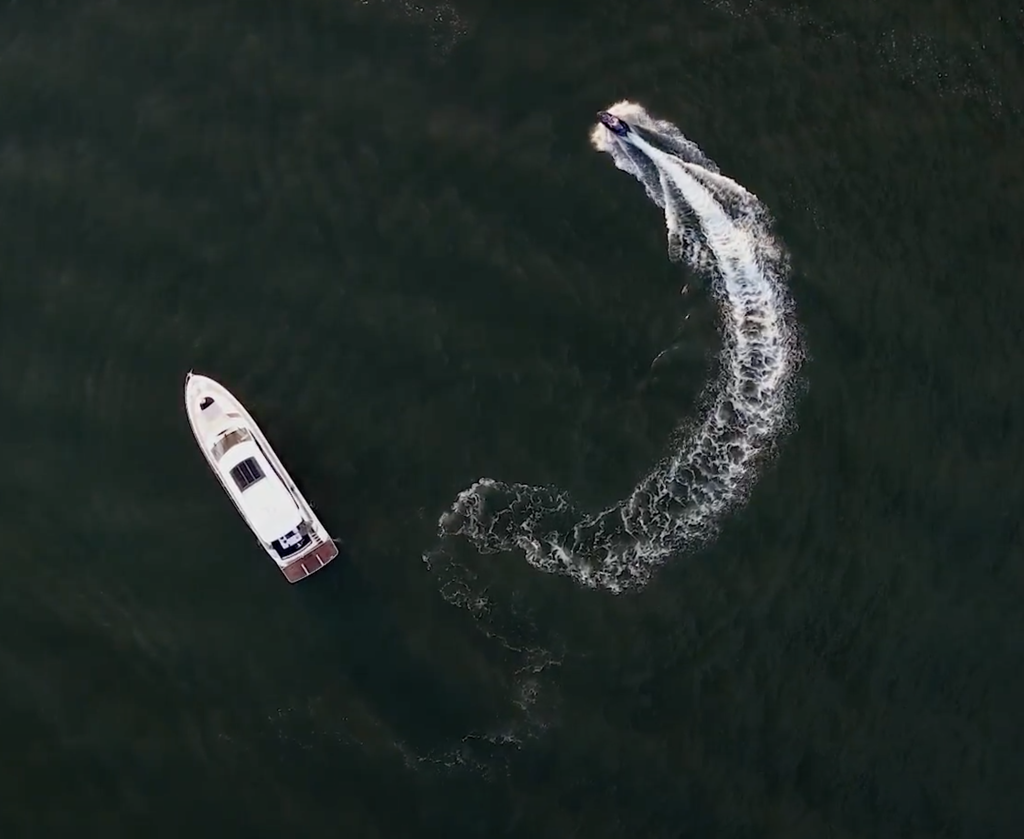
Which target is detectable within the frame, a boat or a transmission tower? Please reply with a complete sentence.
There is a boat in the scene.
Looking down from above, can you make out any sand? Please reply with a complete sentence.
No, the picture contains no sand.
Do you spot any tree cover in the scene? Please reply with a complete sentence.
No, tree cover can't be seen anywhere here.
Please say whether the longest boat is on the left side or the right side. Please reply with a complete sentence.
The longest boat appears in the left half of the scene.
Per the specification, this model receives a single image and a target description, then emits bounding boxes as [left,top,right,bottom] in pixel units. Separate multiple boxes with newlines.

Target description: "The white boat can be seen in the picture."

[182,372,339,581]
